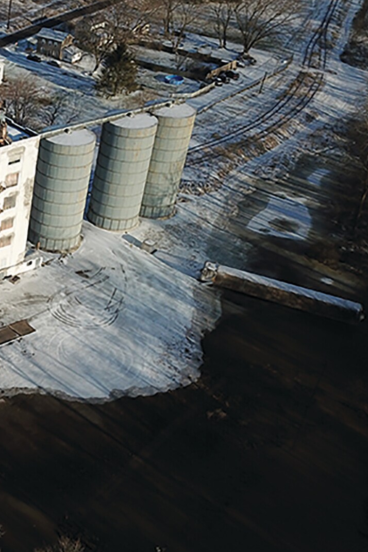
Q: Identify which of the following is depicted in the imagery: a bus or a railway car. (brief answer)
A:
railway car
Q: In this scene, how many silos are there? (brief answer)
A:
3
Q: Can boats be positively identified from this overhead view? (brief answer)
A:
No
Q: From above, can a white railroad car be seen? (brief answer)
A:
No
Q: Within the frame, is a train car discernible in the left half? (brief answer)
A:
No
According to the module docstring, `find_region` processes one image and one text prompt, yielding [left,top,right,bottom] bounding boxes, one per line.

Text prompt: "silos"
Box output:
[86,103,158,231]
[140,98,195,218]
[29,120,97,254]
